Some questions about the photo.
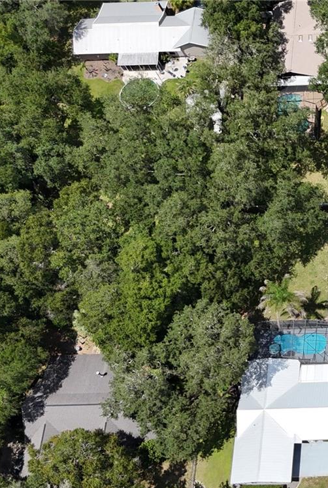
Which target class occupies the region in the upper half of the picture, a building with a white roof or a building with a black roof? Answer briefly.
building with a white roof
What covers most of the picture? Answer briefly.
trees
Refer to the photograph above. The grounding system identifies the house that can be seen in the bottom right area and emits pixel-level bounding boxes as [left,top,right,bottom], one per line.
[231,355,328,486]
